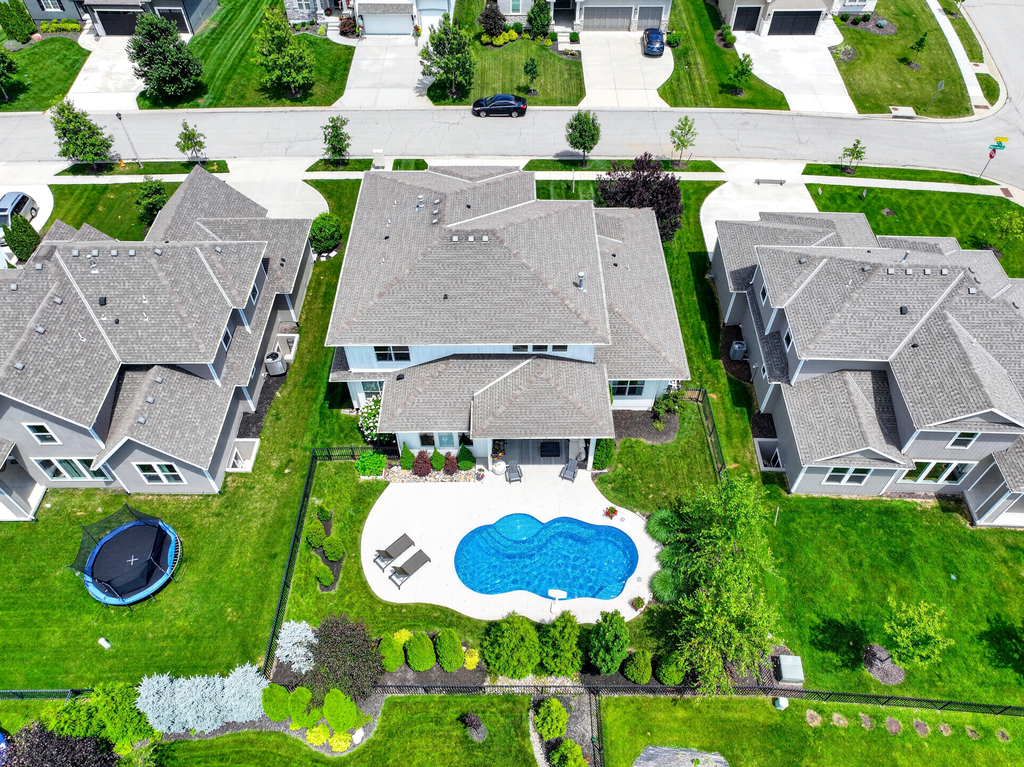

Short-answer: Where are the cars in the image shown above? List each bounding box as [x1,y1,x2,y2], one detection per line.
[0,188,40,240]
[643,27,668,57]
[469,91,524,116]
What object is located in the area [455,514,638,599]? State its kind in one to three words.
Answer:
swimming pool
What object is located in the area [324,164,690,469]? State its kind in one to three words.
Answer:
house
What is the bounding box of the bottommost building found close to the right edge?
[712,212,1024,532]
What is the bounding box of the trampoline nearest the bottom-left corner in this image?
[67,508,185,613]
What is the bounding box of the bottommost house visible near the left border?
[0,164,314,528]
